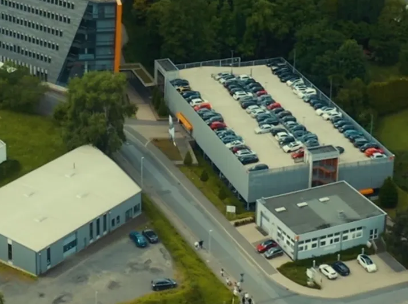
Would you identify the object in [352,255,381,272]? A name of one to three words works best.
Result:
car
